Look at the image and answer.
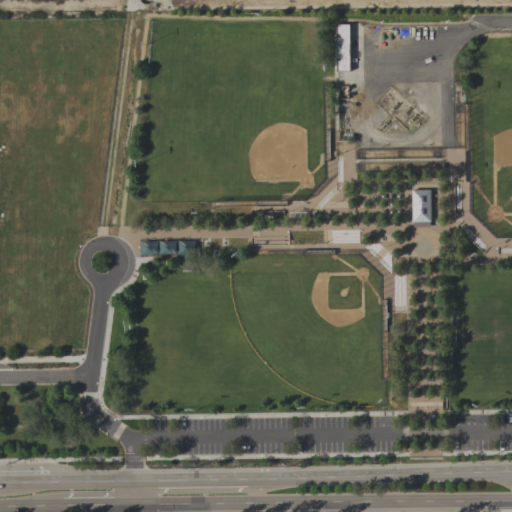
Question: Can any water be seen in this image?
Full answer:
No, the scene doesn't show any water.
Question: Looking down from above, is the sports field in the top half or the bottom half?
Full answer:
The sports field is in the bottom half of the image.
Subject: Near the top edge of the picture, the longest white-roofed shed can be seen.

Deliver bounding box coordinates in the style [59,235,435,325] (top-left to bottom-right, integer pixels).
[338,23,351,70]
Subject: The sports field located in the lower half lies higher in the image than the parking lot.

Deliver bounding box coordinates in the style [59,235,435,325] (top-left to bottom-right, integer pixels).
[447,262,512,410]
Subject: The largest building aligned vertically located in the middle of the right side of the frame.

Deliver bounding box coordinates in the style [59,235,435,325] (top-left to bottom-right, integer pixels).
[412,188,432,227]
